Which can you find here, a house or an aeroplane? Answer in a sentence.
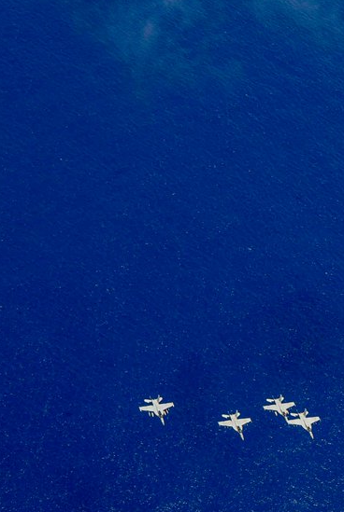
Of the two, only an aeroplane appears.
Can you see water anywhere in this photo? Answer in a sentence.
Yes, water can be seen from above here.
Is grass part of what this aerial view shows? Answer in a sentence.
No, the scene doesn't show any grass.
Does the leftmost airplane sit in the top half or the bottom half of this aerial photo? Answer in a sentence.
You can find the leftmost airplane in the bottom half.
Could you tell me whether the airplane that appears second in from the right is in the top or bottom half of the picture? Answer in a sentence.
Seen from above, the airplane that appears second in from the right lies in the bottom half of the view.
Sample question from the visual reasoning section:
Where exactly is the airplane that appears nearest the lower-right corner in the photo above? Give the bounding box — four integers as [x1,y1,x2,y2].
[287,408,320,439]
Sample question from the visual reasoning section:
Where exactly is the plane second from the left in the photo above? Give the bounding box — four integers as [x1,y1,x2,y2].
[218,410,252,440]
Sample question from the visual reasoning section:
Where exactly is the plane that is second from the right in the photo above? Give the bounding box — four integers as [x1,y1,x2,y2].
[263,394,296,423]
